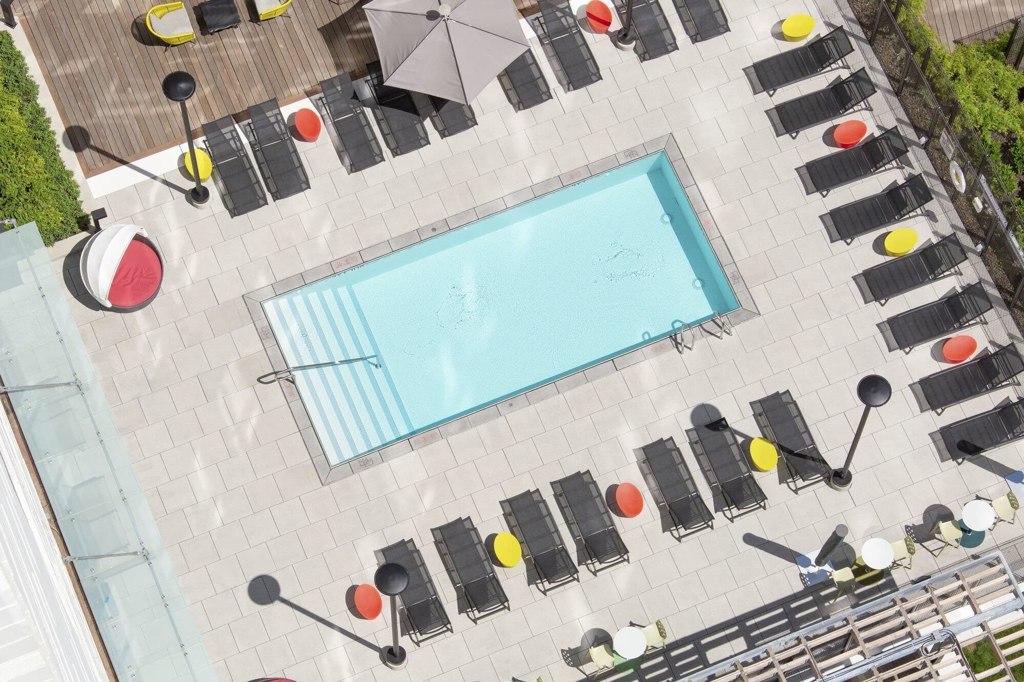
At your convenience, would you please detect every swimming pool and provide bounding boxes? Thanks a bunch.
[244,134,758,483]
